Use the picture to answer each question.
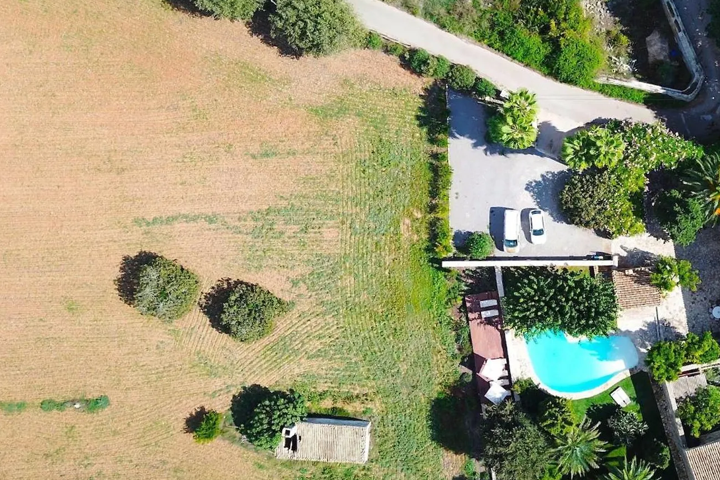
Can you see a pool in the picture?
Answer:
Yes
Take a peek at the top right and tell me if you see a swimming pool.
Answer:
No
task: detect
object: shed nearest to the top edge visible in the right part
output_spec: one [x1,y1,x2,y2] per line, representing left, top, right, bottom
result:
[612,269,662,309]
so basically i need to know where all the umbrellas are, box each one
[485,381,508,405]
[478,354,508,383]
